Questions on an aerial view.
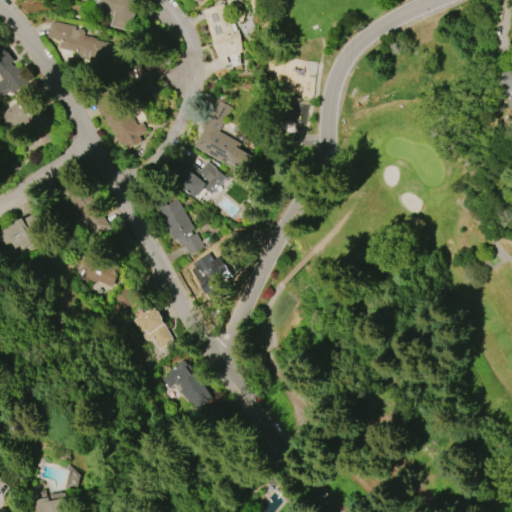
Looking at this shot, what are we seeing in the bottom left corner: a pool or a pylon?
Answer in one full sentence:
It is a pool that can be seen in the bottom left corner.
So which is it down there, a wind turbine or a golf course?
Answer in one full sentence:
This aerial view contains a golf course.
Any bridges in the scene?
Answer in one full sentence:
No, I find no bridge anywhere in the image.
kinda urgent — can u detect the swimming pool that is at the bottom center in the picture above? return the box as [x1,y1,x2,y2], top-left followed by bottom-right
[264,484,288,512]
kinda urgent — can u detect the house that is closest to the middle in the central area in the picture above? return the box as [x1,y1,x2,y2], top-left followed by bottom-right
[187,252,234,294]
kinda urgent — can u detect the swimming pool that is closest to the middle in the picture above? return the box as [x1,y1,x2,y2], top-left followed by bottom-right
[212,191,245,221]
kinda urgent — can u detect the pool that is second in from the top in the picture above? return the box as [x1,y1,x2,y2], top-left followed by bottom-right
[38,462,70,492]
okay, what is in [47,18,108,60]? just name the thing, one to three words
house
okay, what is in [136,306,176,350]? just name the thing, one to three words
house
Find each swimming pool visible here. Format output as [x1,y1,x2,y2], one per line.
[212,191,245,221]
[38,462,70,492]
[264,484,288,512]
